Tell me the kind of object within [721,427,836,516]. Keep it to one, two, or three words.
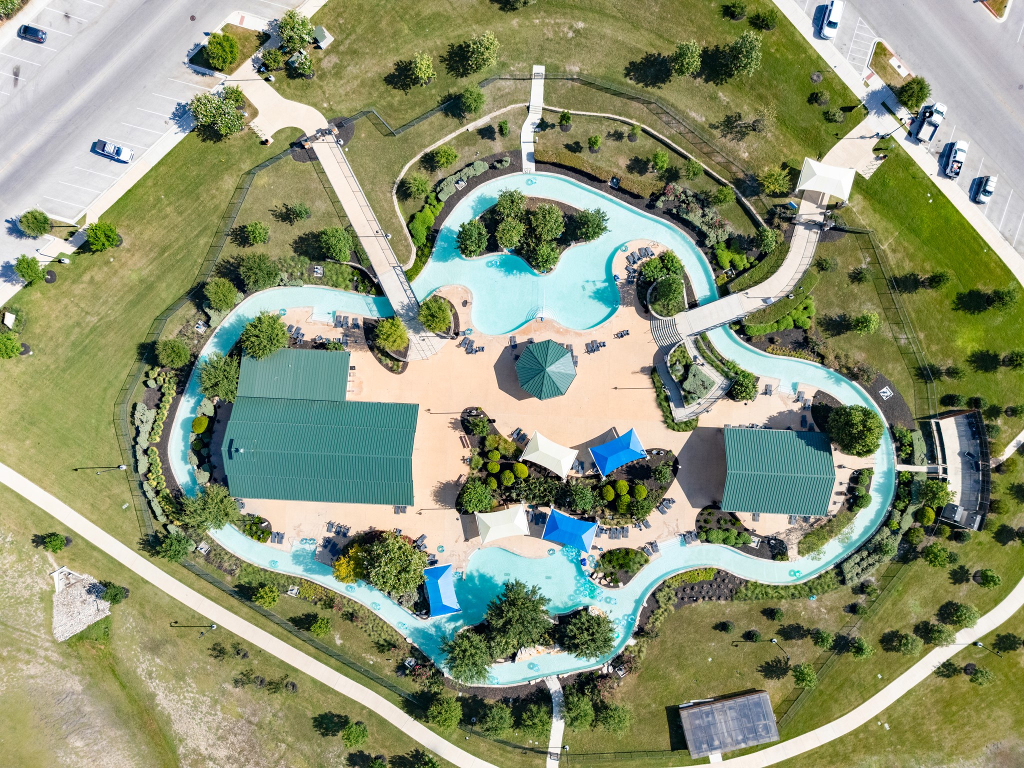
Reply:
building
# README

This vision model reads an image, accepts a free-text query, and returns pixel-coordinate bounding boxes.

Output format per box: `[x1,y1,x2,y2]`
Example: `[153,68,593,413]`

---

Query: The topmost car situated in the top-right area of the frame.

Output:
[819,0,845,42]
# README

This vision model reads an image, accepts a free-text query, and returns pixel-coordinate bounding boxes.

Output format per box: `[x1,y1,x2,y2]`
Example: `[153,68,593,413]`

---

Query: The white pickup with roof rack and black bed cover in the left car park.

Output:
[92,137,138,164]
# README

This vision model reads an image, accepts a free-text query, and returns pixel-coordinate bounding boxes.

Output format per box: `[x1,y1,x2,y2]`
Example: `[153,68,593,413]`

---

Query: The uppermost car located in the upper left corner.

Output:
[16,23,52,46]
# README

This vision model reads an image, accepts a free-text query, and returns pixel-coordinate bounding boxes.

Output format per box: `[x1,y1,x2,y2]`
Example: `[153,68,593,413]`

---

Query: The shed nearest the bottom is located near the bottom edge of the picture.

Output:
[676,685,780,759]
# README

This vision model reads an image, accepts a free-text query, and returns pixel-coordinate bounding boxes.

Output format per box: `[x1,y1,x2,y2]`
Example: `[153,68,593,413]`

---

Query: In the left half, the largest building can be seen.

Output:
[221,349,419,506]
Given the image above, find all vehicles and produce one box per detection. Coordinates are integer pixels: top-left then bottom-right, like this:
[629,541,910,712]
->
[16,23,52,46]
[92,137,138,164]
[972,171,999,208]
[819,0,845,42]
[914,100,948,145]
[943,138,970,182]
